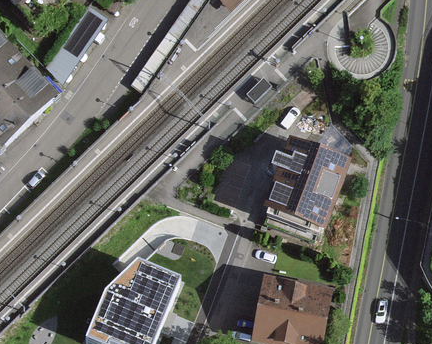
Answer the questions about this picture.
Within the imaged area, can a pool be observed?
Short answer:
No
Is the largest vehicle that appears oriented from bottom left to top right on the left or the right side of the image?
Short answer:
right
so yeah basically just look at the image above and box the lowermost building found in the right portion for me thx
[252,273,335,344]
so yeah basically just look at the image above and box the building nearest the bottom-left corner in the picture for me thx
[86,258,182,344]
